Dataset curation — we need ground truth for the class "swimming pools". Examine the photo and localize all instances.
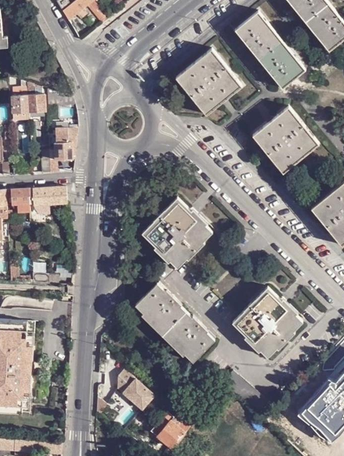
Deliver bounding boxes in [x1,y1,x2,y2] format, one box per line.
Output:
[114,392,138,426]
[59,105,76,120]
[21,133,30,155]
[22,256,31,272]
[0,104,10,124]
